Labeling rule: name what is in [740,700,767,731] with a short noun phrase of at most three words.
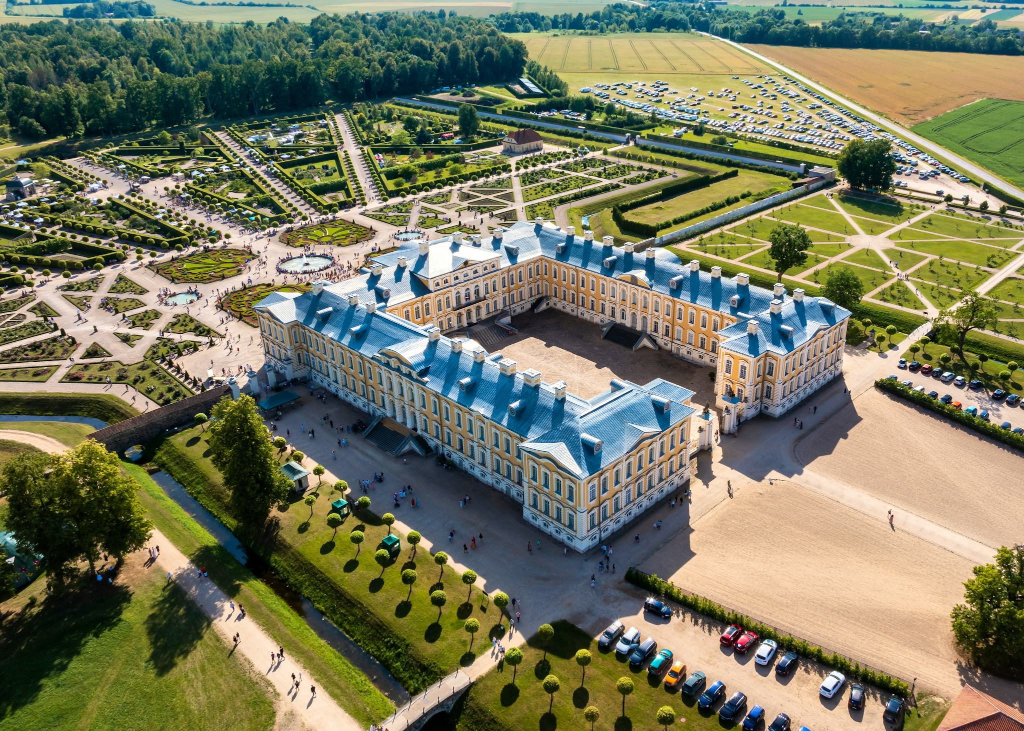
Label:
car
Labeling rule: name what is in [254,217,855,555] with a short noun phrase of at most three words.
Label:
building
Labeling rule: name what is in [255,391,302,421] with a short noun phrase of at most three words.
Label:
tent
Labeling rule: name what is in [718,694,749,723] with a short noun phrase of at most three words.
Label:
car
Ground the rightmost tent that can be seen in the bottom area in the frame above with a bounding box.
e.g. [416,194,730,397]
[381,534,403,559]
